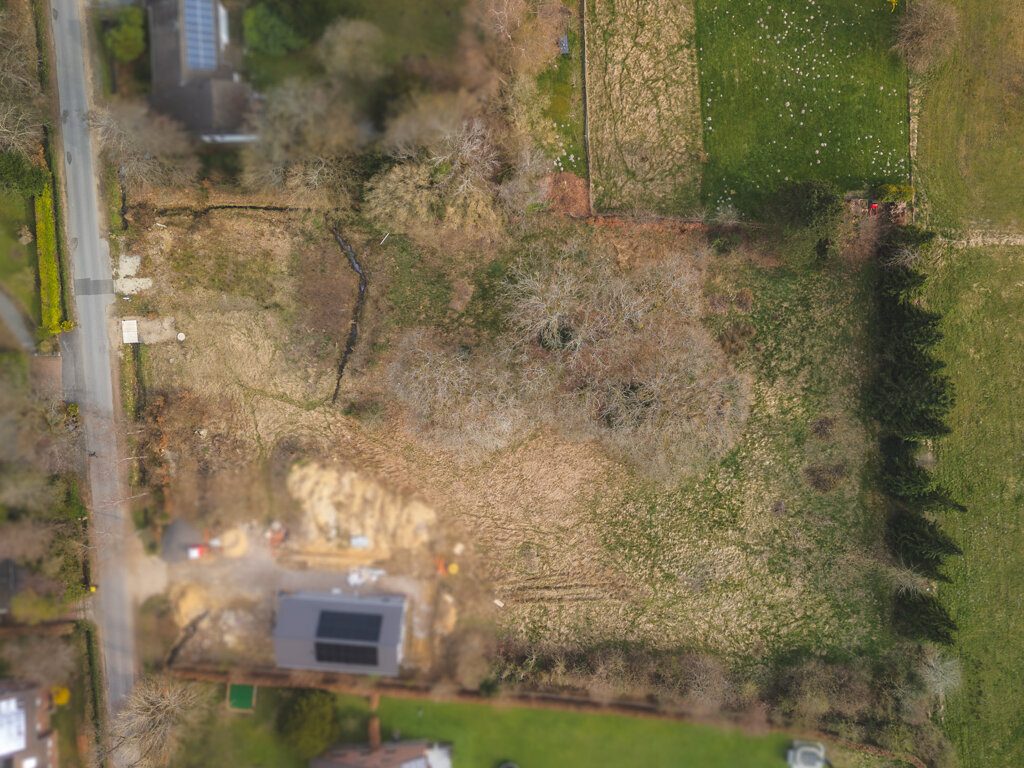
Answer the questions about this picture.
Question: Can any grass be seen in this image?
Yes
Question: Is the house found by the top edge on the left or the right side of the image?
left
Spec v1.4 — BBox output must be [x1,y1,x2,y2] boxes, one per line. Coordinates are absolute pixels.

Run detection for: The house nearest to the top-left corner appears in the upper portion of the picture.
[153,0,265,151]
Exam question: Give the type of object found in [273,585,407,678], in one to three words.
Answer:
house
